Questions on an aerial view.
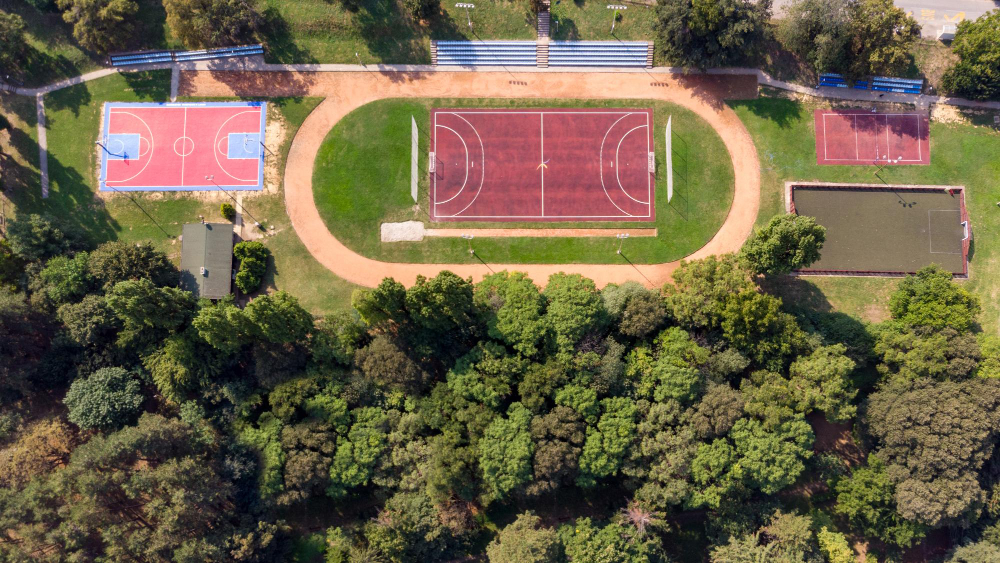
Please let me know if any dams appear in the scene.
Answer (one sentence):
No, the photo shows no dam.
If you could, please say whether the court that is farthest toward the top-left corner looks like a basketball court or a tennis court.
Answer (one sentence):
In the photo, the court that is farthest toward the top-left corner shows up as a basketball court.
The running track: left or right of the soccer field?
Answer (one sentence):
The running track is to the left of the soccer field.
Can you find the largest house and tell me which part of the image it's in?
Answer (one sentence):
The largest house appears toward the left of the photo.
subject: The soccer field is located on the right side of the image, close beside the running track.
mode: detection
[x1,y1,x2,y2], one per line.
[785,182,973,279]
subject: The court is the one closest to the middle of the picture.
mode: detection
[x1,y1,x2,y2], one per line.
[431,108,655,221]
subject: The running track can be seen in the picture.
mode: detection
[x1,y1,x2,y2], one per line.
[178,70,760,286]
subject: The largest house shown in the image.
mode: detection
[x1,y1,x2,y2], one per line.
[181,219,234,302]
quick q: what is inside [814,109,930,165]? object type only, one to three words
sports court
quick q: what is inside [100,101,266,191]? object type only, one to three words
basketball court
